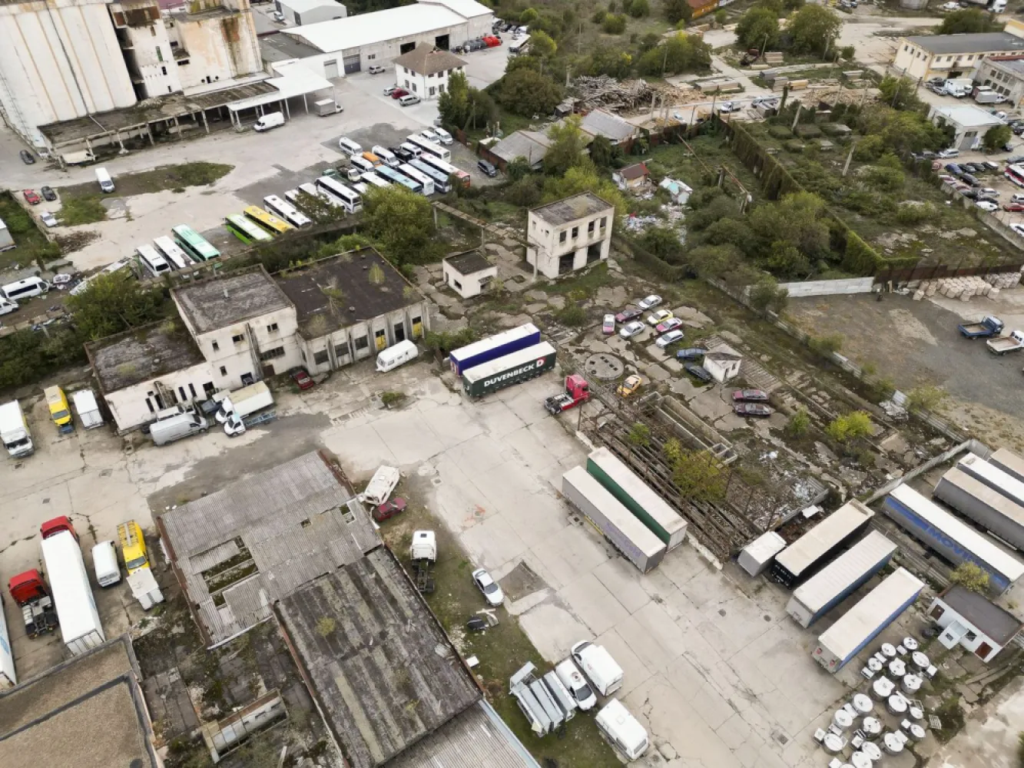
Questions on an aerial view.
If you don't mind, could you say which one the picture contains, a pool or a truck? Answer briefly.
truck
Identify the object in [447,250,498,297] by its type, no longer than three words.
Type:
shed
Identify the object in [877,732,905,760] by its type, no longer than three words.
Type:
storage tank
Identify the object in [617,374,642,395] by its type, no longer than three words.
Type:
car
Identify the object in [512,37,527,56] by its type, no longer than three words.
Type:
vehicle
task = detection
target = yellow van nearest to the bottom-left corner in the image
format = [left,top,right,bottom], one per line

[114,524,151,573]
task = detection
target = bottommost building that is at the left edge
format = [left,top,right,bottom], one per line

[0,635,174,768]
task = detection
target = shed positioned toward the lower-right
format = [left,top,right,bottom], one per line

[924,576,1024,664]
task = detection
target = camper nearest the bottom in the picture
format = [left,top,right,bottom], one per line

[587,698,662,768]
